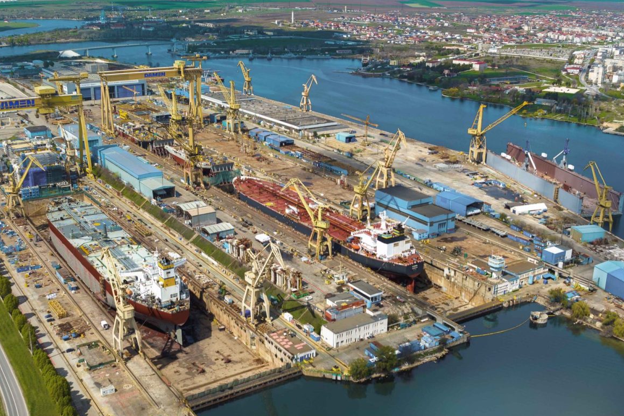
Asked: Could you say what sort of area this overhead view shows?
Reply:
port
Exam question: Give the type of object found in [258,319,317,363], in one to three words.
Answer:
house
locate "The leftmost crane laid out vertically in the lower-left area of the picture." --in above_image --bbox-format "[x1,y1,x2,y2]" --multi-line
[96,247,150,361]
